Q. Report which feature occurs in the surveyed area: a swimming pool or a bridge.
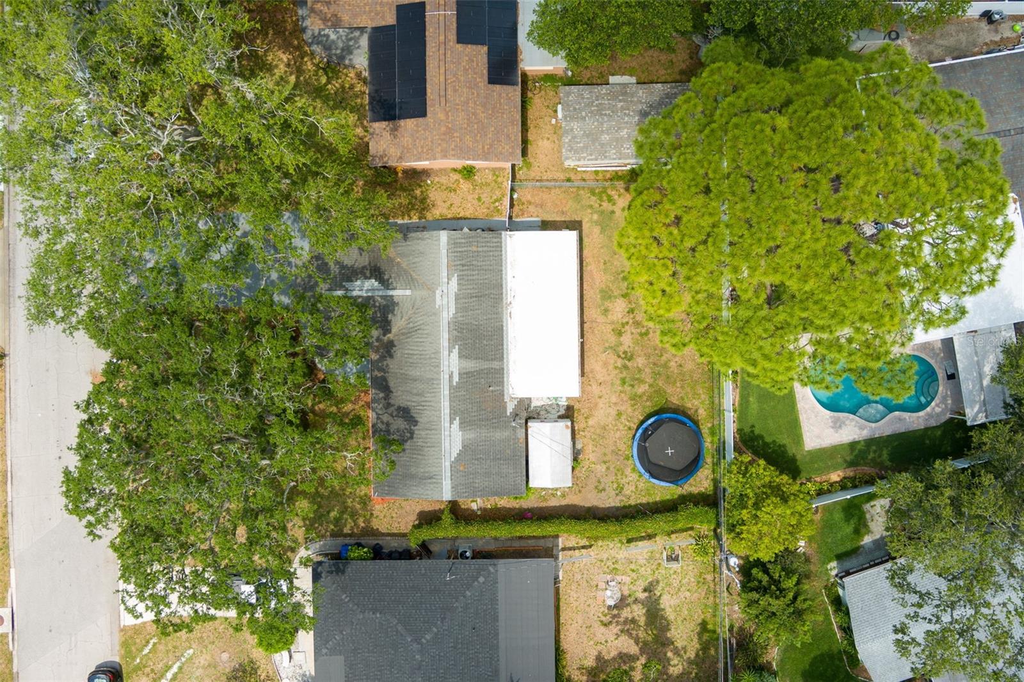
swimming pool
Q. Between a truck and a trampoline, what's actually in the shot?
trampoline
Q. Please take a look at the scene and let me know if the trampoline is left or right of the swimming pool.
left of it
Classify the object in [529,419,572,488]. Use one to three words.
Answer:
shed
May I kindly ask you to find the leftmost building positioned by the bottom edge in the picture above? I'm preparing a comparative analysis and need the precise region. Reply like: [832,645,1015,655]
[311,556,556,682]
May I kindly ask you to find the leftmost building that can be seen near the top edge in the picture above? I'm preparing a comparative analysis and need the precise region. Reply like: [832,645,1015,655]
[305,0,567,167]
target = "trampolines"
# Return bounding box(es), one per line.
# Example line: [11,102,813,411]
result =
[628,410,710,490]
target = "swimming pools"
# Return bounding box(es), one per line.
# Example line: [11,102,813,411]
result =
[792,339,963,450]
